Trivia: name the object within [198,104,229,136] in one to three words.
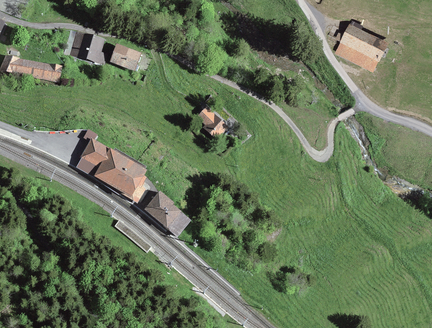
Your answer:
house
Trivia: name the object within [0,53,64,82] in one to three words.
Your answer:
house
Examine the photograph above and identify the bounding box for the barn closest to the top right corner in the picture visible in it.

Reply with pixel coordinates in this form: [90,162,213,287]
[334,19,388,73]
